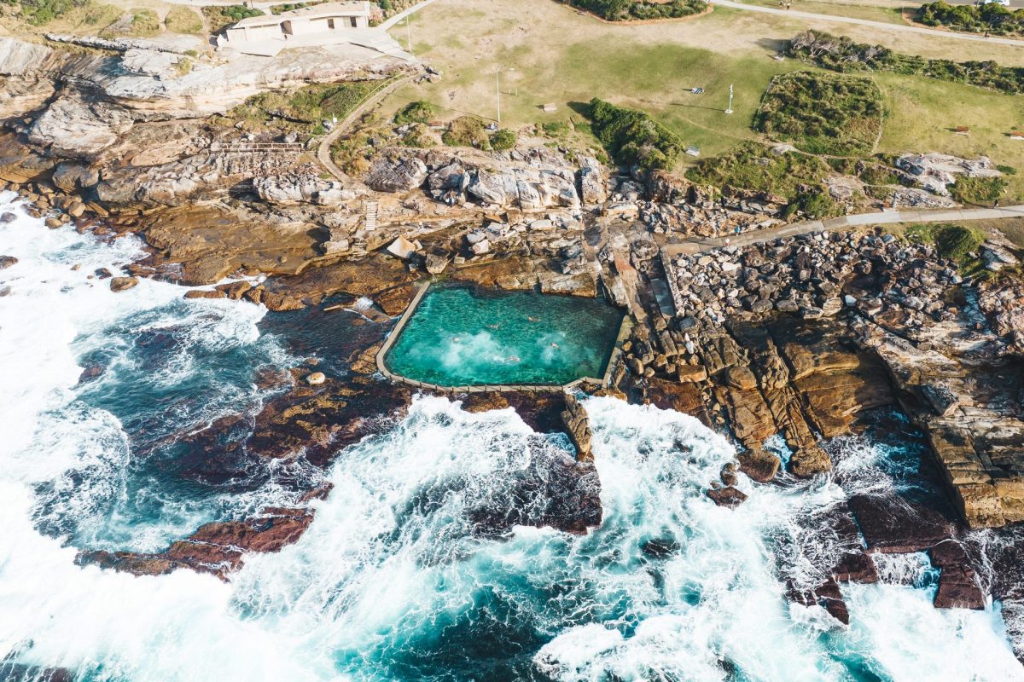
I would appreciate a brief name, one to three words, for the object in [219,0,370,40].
building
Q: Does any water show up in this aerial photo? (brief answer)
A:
Yes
